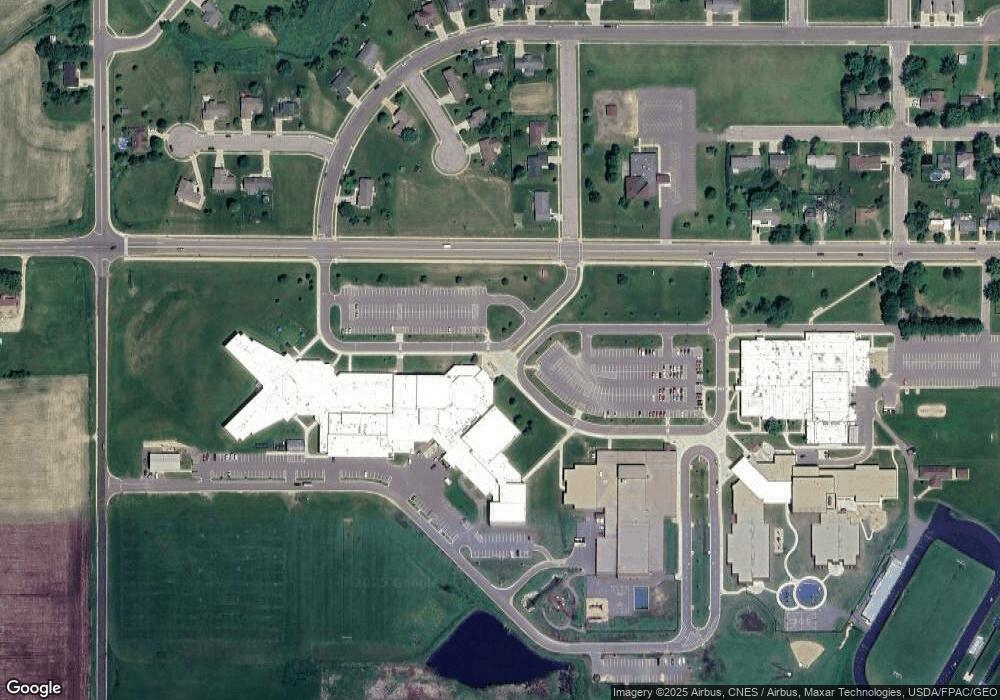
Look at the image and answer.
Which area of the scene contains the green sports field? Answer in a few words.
bottom right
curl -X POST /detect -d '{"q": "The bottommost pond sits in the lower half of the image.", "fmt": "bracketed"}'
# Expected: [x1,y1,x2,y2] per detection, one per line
[426,609,570,688]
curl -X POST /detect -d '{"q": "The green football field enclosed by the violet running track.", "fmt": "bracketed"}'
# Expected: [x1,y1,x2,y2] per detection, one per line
[866,540,994,700]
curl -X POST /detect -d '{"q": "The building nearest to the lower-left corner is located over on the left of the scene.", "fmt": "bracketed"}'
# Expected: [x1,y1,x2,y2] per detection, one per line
[149,454,180,473]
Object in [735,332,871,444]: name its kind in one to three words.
building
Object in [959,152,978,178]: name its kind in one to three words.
house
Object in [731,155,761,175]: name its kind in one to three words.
house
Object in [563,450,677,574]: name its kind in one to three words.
building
